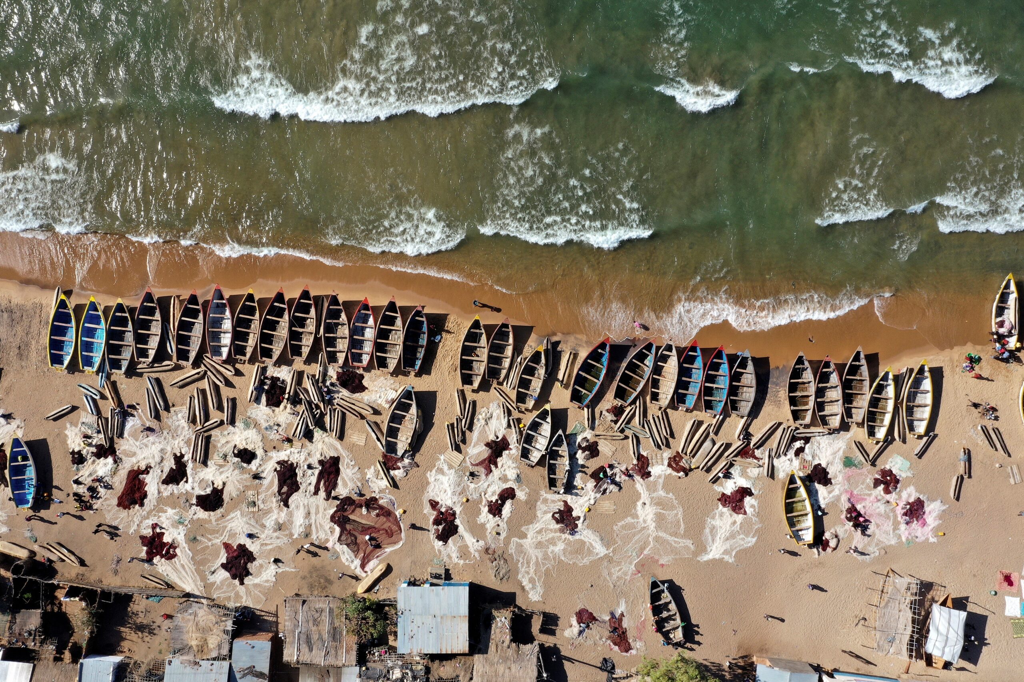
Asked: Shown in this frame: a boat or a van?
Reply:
boat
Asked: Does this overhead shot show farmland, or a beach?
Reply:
beach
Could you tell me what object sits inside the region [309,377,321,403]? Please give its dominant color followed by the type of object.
gray boat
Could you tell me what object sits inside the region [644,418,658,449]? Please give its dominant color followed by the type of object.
gray boat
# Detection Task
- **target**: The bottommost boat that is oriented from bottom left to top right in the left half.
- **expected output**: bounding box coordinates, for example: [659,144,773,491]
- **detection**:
[359,563,389,594]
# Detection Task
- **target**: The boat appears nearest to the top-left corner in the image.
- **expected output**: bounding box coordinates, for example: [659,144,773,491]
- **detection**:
[49,286,61,320]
